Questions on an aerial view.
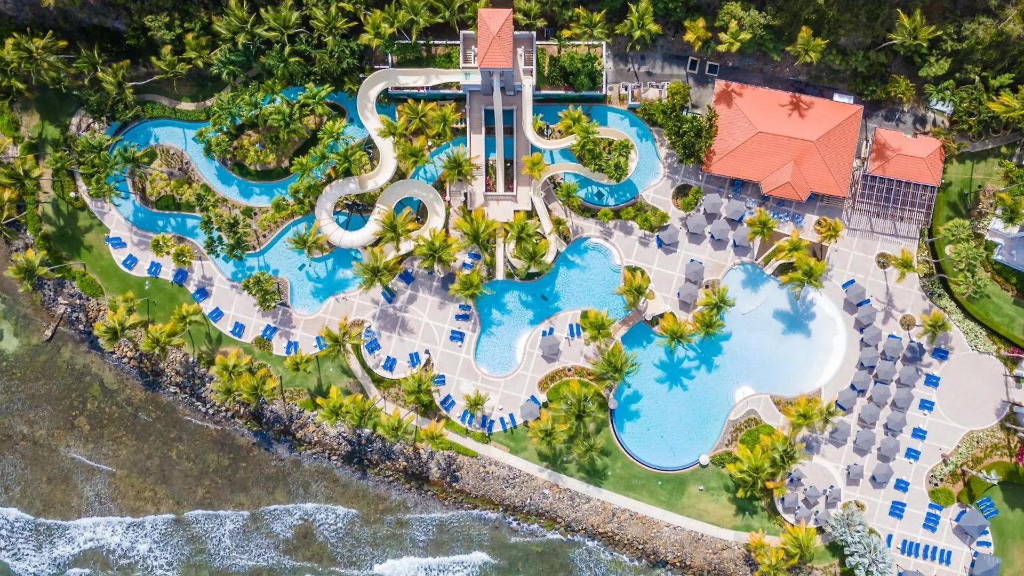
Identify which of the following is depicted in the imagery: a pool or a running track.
pool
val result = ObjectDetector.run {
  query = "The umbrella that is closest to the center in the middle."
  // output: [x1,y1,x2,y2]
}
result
[539,334,562,357]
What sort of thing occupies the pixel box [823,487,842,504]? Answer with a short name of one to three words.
umbrella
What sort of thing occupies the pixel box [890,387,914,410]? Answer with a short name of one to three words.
umbrella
